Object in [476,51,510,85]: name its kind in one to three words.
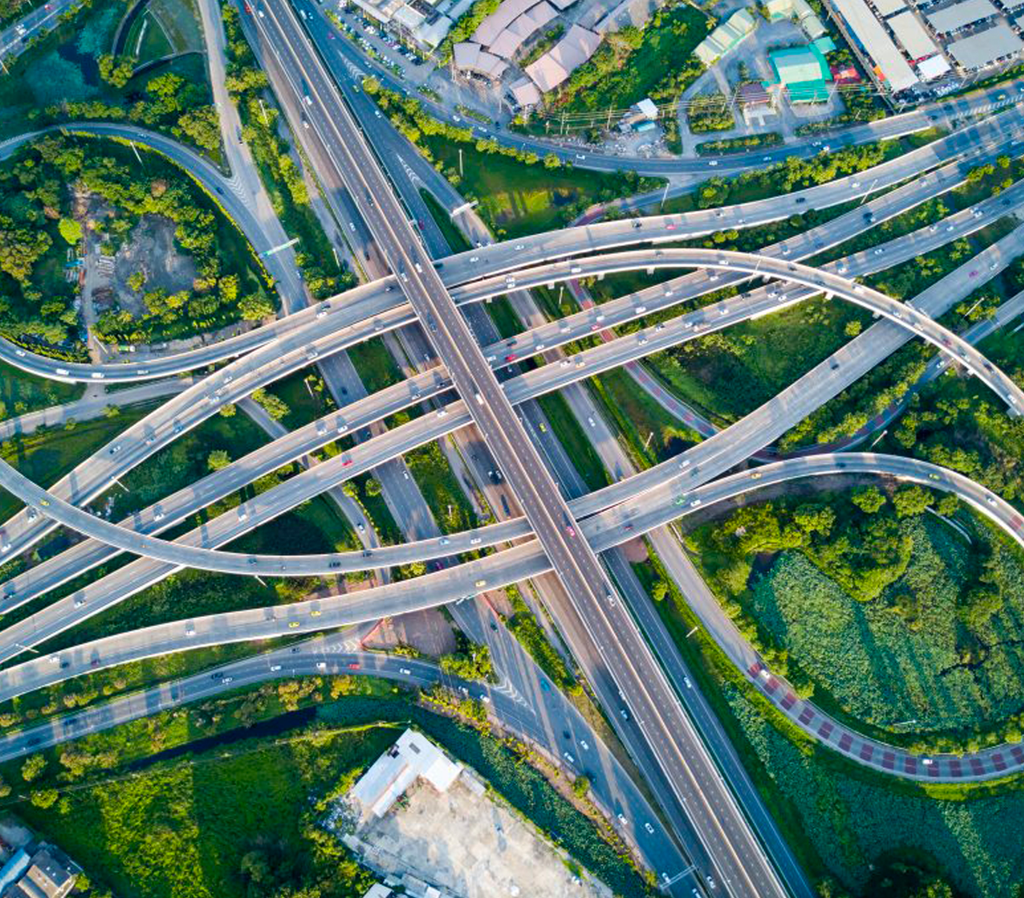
shed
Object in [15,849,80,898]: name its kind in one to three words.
house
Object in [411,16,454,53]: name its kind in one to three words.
building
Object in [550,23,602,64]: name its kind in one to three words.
shed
